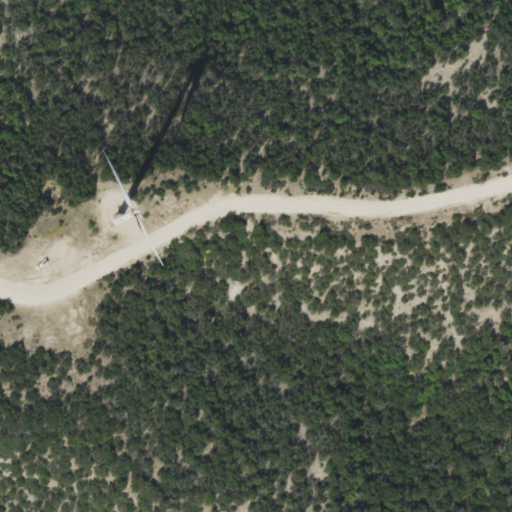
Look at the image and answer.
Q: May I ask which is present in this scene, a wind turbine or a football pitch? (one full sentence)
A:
The one in the frame is a wind turbine.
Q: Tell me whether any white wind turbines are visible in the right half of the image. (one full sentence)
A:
No, the scene shows no white wind turbine in the right half of the image.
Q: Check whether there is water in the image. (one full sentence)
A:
No, there is no water in the image.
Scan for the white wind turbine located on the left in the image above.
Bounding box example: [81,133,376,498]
[102,150,163,266]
